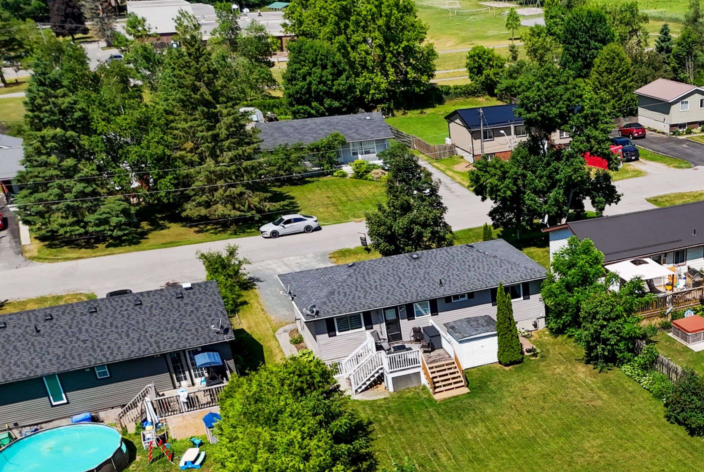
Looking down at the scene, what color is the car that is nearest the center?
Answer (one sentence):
In this view, the car that is nearest the center is white.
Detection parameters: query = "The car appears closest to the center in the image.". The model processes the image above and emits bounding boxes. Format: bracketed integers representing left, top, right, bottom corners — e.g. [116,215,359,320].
[258,213,322,242]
